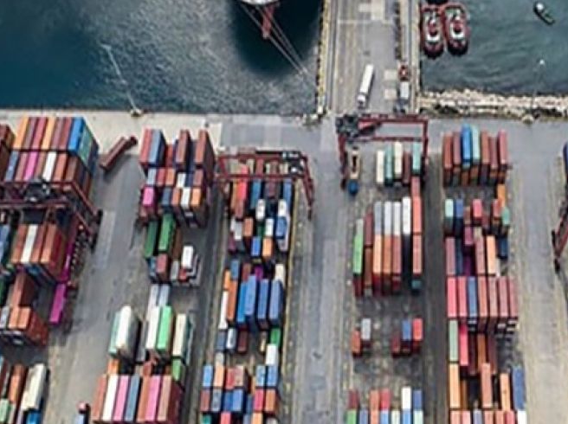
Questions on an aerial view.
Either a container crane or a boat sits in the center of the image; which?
container crane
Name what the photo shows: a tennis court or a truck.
truck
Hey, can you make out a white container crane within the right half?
No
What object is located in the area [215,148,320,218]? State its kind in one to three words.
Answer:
container crane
